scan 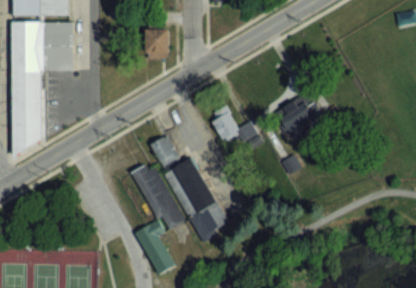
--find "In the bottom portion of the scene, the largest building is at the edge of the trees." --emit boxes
[166,159,227,240]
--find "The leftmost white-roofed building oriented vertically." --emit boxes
[10,20,44,156]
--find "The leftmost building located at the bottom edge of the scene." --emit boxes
[133,219,175,275]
